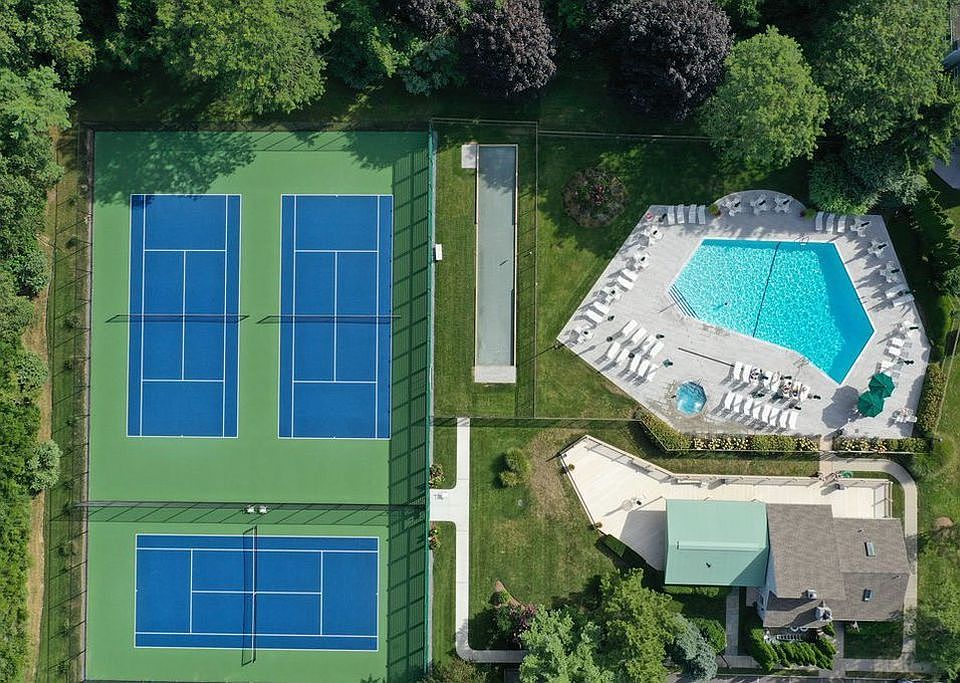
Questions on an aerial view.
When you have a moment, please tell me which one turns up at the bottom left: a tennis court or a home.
tennis court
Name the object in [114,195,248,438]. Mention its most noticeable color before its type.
blue tennis court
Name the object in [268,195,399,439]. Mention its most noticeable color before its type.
blue tennis court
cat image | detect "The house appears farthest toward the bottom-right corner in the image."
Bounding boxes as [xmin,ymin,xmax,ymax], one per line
[759,502,910,628]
